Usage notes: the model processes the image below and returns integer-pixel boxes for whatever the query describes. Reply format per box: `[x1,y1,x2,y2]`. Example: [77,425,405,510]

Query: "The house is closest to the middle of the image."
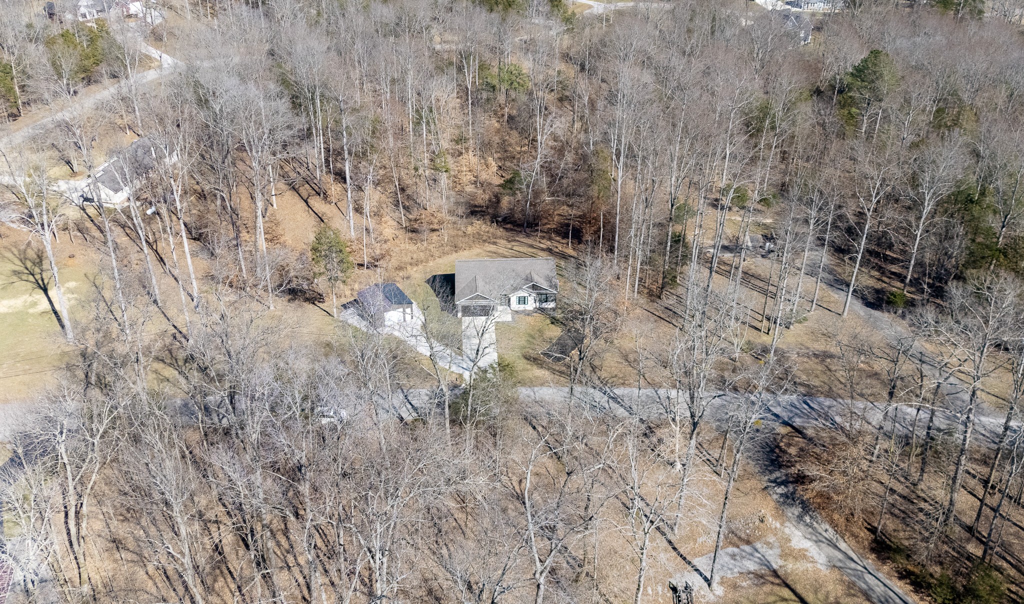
[457,258,562,318]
